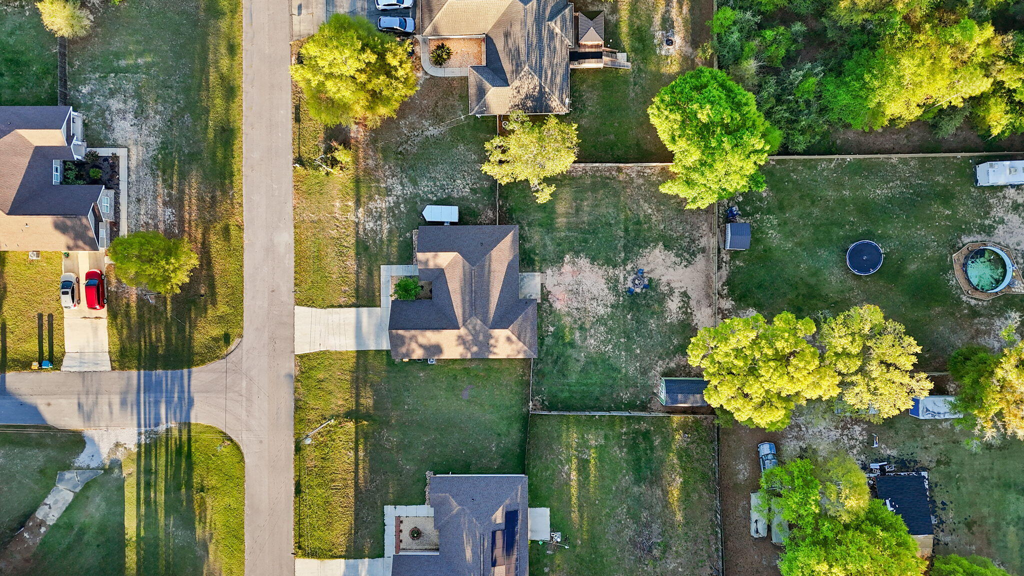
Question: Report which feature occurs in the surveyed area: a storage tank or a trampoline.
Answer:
trampoline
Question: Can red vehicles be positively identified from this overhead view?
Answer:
Yes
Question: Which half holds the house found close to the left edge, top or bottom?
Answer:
top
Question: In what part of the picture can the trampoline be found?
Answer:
right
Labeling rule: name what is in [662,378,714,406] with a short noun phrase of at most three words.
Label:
shed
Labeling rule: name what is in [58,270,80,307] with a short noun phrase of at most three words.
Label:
car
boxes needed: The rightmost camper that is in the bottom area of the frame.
[911,394,965,419]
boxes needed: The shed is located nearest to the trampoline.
[725,223,751,249]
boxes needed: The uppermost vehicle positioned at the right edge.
[971,161,1024,189]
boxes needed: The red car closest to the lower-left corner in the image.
[84,270,105,307]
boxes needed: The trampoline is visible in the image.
[845,239,883,276]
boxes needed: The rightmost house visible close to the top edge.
[420,0,574,117]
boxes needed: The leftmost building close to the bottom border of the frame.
[389,473,528,576]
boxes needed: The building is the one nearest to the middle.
[388,224,538,359]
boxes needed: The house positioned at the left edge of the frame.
[0,106,114,251]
